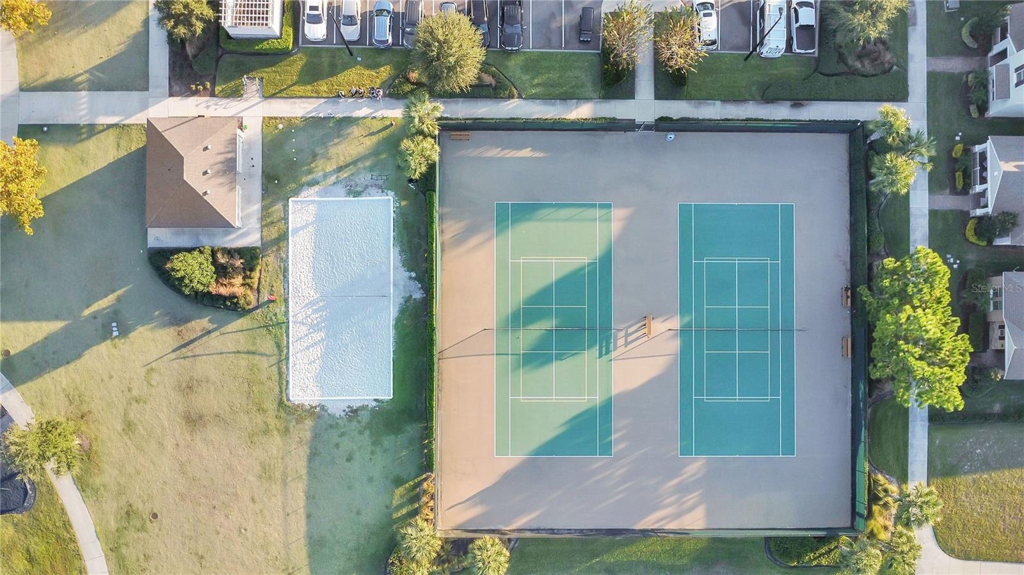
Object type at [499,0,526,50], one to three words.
truck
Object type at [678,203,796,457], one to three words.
tennis court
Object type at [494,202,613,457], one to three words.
tennis court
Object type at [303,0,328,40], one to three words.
car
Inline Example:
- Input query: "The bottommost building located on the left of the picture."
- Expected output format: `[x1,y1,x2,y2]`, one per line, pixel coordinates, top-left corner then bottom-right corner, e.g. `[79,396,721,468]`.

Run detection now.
[145,115,248,229]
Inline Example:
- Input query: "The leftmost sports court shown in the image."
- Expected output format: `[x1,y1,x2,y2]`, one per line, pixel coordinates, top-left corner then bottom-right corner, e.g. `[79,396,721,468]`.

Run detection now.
[288,196,394,402]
